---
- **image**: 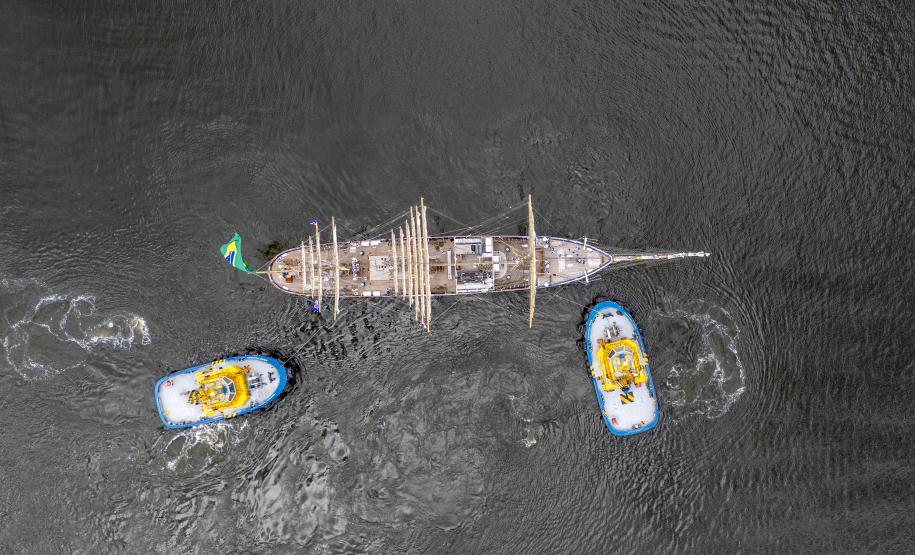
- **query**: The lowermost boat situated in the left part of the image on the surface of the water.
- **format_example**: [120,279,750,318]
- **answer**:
[157,349,295,427]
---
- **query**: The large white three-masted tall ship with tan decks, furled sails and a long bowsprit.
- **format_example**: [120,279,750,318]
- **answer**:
[256,195,710,332]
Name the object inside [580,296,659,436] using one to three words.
boat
